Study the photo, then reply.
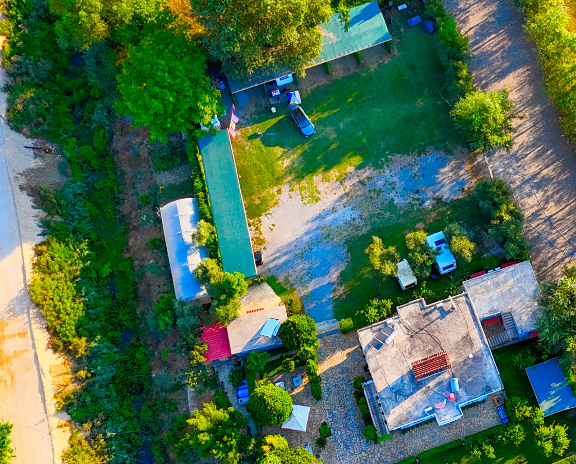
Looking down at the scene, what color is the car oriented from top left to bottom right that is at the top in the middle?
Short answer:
blue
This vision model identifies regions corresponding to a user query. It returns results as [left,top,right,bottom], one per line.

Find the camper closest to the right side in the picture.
[427,229,458,283]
